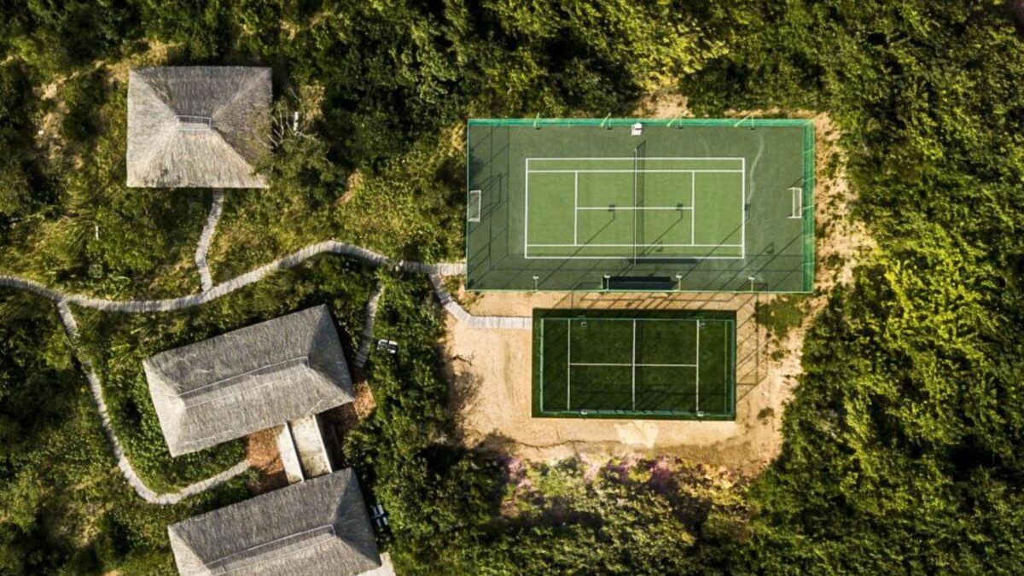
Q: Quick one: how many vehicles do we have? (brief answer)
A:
0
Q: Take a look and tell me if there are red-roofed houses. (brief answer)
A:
No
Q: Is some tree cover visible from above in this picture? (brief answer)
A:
Yes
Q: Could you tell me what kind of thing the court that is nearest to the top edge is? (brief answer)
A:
tennis court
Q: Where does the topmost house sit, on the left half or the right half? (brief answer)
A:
left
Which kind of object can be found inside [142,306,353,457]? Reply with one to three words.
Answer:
house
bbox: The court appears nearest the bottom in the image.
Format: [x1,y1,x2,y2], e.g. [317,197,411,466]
[532,309,735,420]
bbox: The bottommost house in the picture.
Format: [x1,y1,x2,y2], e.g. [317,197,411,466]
[168,468,383,576]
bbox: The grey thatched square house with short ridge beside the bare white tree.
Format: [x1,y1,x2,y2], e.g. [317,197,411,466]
[125,66,273,189]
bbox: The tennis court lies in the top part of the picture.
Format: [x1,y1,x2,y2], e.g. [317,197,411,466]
[468,126,805,291]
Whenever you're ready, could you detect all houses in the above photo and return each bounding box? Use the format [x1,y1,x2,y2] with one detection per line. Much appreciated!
[142,306,353,457]
[125,66,273,189]
[168,468,383,576]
